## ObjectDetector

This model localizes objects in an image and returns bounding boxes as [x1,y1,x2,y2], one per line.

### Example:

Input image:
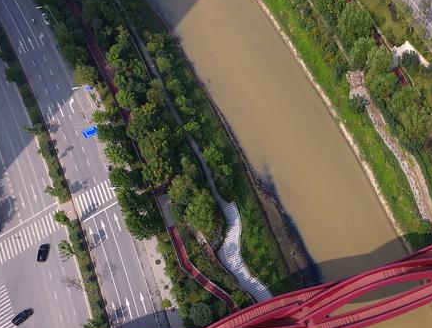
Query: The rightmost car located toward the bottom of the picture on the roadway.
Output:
[38,244,50,262]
